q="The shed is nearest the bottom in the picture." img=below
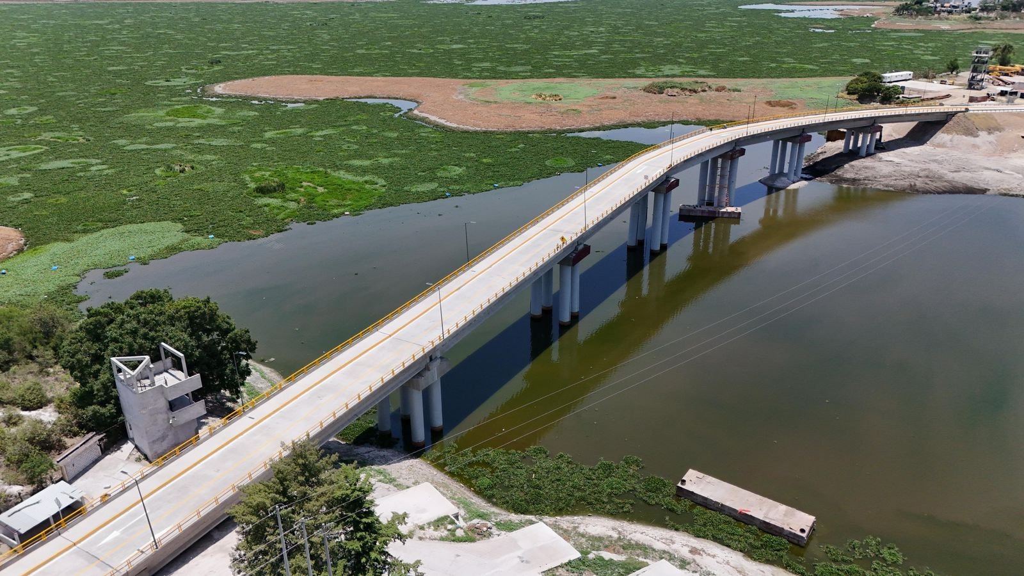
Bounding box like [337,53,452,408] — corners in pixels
[0,481,87,548]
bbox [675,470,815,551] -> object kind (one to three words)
pier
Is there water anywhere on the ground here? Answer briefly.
Yes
